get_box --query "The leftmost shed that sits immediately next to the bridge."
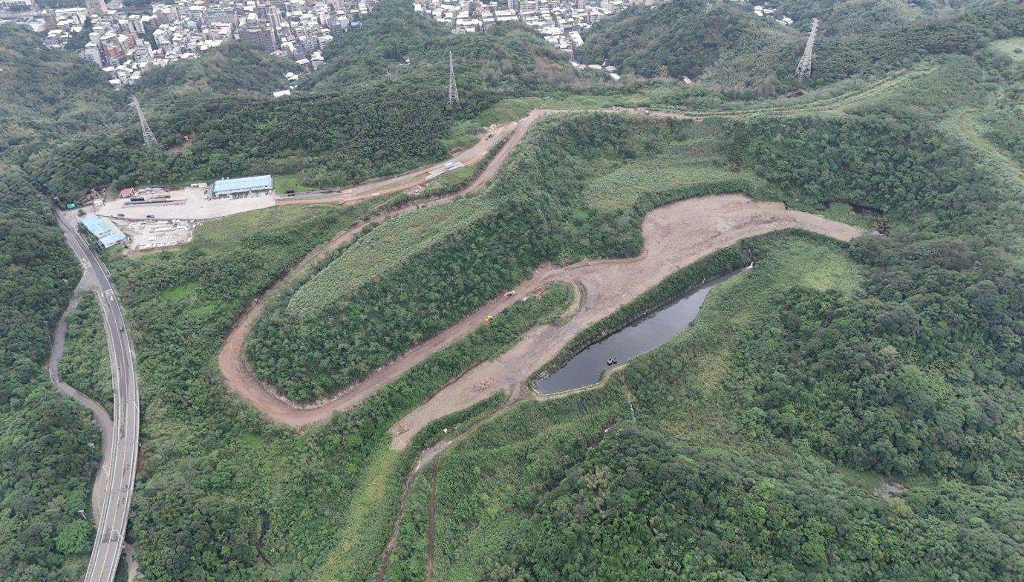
[79,212,128,249]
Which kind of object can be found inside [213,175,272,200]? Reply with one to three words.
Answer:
shed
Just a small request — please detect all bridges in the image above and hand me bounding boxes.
[79,241,144,582]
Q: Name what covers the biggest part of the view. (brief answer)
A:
trees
